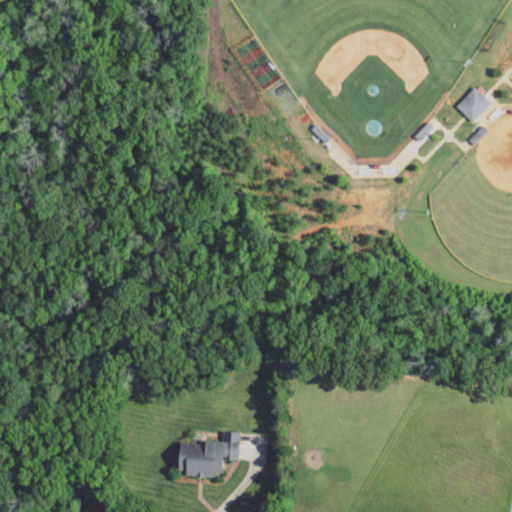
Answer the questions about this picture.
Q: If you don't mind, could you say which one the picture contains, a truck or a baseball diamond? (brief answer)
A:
baseball diamond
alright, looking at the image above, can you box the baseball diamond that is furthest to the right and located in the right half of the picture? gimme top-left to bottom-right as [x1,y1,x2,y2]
[430,112,512,282]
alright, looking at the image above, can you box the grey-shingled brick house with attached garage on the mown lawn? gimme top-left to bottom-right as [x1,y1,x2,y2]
[179,432,241,480]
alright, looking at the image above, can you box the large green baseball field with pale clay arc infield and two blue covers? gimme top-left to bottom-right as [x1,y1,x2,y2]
[232,0,510,166]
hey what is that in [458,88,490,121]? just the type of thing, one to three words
building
